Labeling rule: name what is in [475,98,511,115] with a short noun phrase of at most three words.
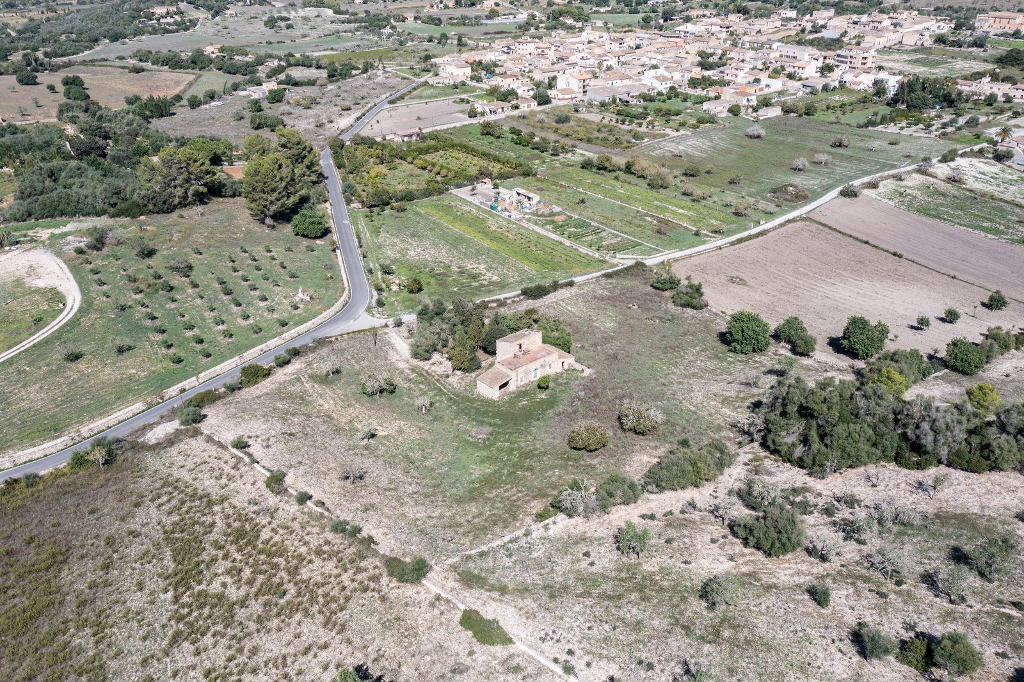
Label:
house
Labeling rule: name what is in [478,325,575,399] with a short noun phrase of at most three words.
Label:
house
